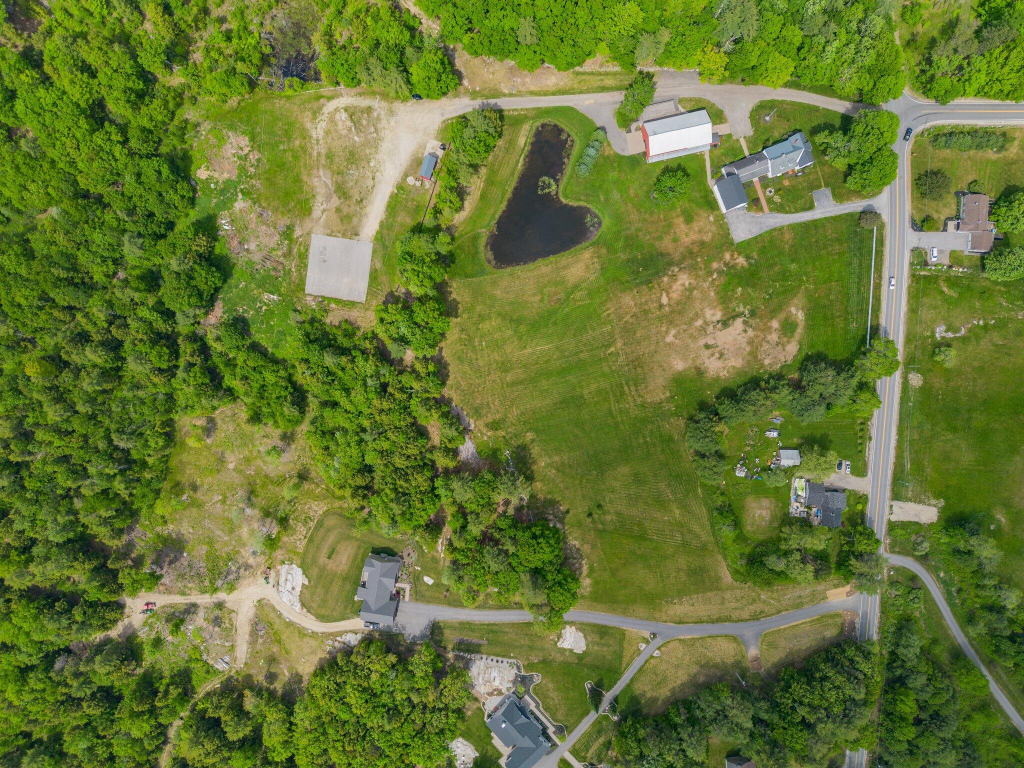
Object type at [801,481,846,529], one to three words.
house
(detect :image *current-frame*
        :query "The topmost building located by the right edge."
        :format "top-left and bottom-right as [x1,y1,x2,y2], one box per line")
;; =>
[955,193,1004,252]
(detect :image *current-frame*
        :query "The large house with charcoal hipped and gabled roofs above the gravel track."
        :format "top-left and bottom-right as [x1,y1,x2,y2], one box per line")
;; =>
[355,551,402,626]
